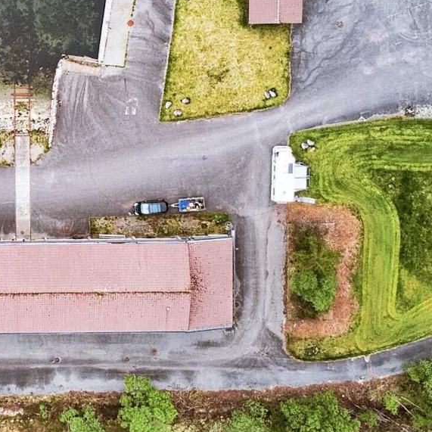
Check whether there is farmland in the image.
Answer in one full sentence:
No, there's no farmland in this view.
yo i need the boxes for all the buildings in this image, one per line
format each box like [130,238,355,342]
[244,0,303,25]
[0,235,235,337]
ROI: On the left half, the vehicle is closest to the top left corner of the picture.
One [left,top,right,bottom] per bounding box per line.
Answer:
[132,199,166,217]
